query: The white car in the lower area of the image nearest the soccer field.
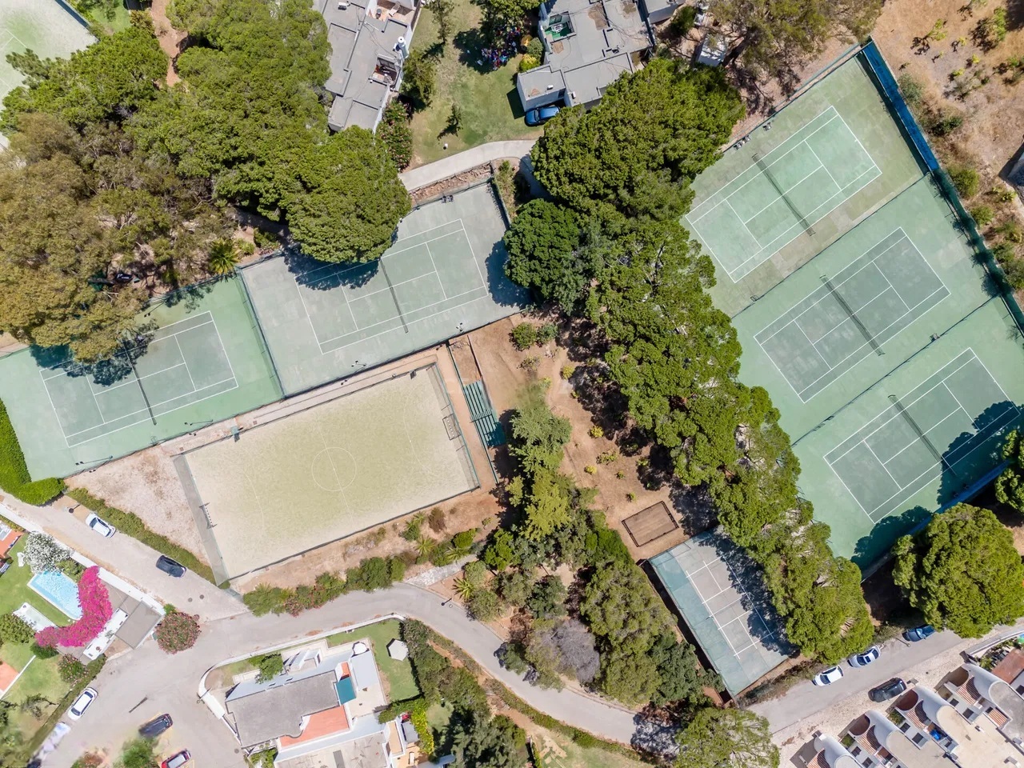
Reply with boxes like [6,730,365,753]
[86,511,118,539]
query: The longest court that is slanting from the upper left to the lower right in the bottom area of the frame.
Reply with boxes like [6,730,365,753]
[647,524,792,695]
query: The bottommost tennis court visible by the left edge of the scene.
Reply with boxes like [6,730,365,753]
[0,271,283,486]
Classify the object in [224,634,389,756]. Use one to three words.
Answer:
house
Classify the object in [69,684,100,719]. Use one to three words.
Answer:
car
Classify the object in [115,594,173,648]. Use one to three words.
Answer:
shed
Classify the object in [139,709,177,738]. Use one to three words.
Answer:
car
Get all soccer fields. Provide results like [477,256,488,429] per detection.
[175,364,480,585]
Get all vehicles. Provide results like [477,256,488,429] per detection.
[161,746,193,768]
[155,552,188,580]
[139,709,177,738]
[86,511,118,539]
[69,684,100,719]
[867,675,907,702]
[845,643,883,669]
[44,718,76,753]
[900,620,937,644]
[811,664,844,687]
[526,106,559,127]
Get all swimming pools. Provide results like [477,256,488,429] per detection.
[25,569,85,621]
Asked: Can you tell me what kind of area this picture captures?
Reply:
sports ground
